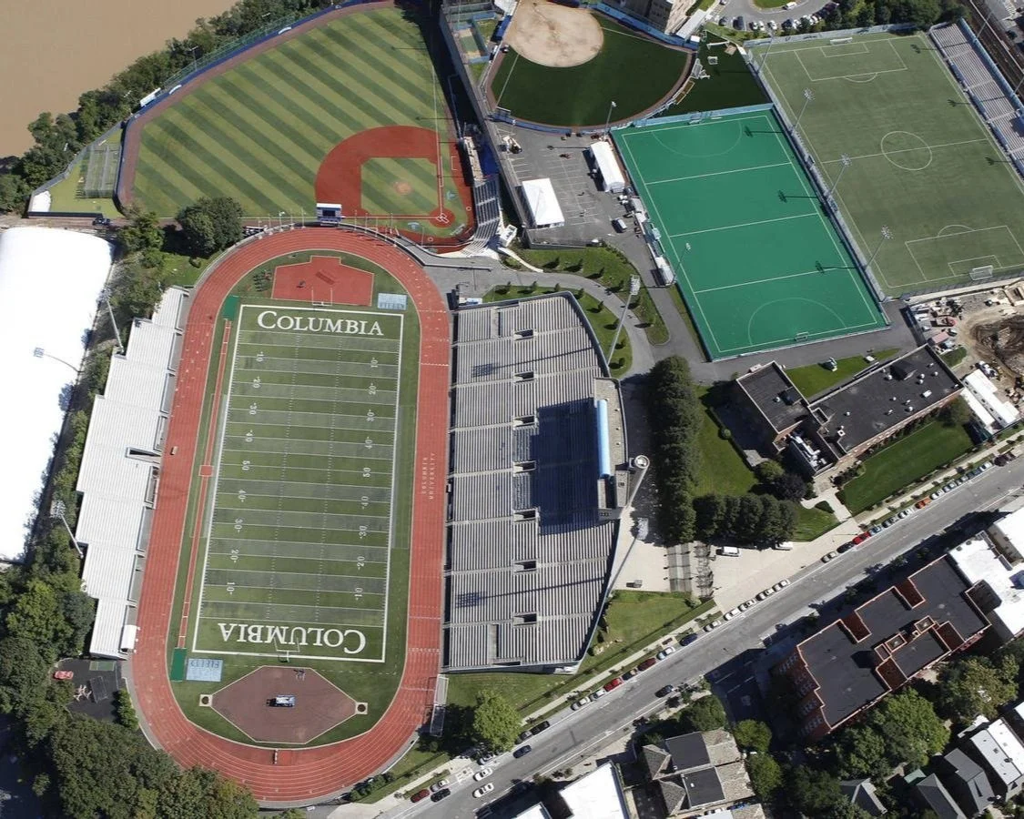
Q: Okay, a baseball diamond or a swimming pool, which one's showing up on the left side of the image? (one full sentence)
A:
It is a baseball diamond that can be seen on the left side of the image.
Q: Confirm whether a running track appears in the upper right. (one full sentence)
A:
No, I see no running track in the upper right.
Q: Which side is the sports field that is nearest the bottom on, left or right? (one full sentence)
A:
The sports field that is nearest the bottom is on the left side of the image.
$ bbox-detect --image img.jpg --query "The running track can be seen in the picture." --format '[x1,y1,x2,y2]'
[129,228,451,802]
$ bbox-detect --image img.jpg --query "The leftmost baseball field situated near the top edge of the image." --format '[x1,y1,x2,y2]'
[117,0,477,252]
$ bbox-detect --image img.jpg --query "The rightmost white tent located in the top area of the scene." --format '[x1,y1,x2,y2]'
[589,142,624,196]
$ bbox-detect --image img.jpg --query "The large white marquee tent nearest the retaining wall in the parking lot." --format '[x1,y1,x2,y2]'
[521,178,564,231]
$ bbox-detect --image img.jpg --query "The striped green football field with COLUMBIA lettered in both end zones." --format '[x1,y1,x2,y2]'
[168,249,421,749]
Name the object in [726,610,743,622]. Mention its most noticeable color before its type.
white vehicle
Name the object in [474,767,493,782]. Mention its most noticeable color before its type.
white car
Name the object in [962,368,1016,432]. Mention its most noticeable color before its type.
white trailer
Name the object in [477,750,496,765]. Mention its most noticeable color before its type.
gray car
